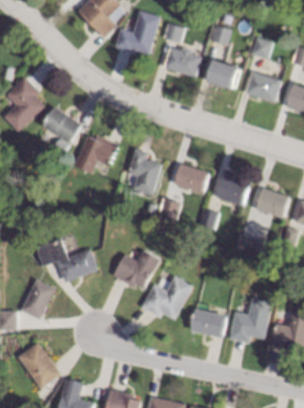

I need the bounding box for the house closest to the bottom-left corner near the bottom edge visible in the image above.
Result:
[19,343,59,389]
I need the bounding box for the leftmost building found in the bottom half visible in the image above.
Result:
[0,312,20,330]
